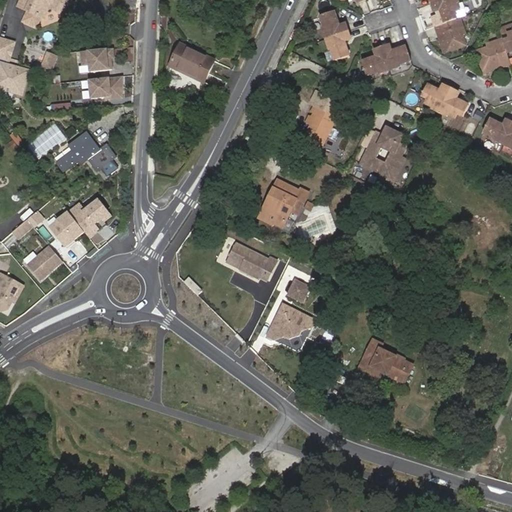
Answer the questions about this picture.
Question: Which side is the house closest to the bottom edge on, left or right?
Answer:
right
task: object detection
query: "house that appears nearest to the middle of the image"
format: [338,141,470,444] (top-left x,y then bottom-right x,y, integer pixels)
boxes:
[226,241,280,282]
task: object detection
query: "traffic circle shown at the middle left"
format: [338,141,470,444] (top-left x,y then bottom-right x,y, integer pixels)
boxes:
[90,253,160,323]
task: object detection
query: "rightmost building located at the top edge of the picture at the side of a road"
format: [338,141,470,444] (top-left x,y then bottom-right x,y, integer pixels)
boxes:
[478,22,512,72]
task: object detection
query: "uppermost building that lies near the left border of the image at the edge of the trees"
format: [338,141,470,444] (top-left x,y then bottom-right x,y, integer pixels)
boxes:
[15,0,56,29]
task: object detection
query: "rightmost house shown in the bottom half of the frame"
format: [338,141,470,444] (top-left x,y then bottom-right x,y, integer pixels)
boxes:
[359,337,414,380]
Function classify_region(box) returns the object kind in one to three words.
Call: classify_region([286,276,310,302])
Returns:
building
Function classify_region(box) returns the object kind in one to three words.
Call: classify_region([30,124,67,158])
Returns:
greenhouse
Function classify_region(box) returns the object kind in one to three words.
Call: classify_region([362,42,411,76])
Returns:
house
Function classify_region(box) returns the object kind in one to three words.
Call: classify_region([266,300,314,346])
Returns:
house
